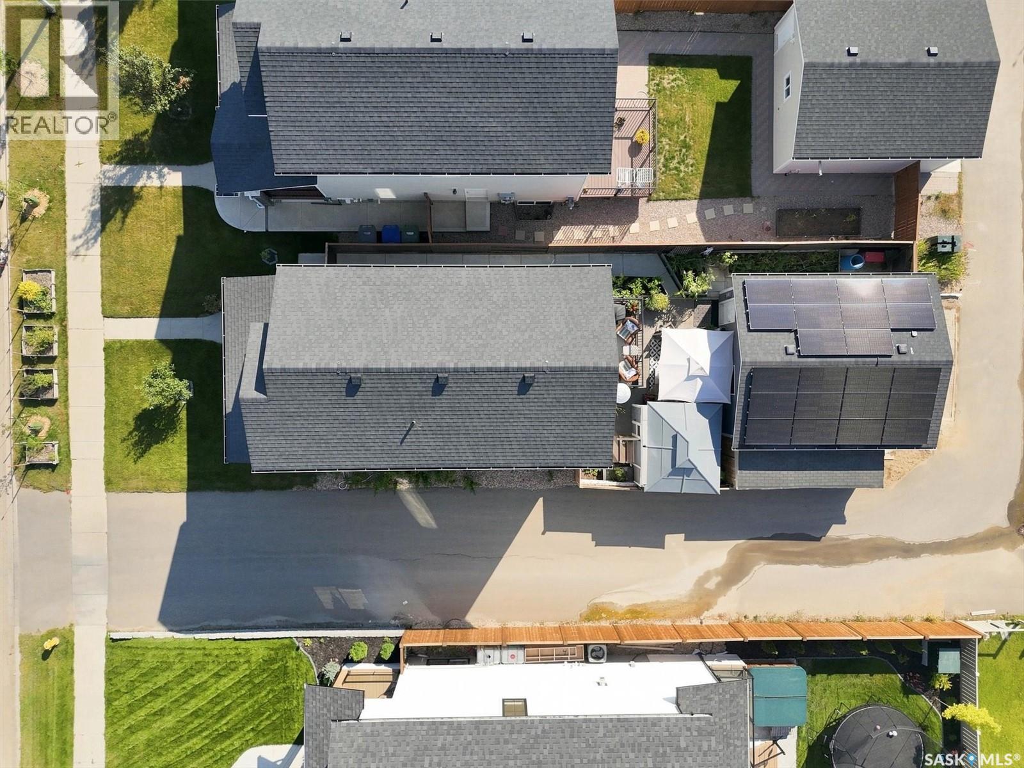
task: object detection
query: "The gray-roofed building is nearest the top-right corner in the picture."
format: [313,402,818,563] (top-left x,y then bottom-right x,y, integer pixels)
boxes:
[772,0,1002,179]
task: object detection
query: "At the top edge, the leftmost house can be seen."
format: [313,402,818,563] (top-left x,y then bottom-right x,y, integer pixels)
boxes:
[211,0,618,231]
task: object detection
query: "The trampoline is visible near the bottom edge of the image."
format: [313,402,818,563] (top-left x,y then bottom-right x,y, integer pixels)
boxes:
[820,694,947,768]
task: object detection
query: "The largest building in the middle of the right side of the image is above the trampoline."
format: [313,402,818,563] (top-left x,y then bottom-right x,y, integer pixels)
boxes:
[715,270,957,489]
